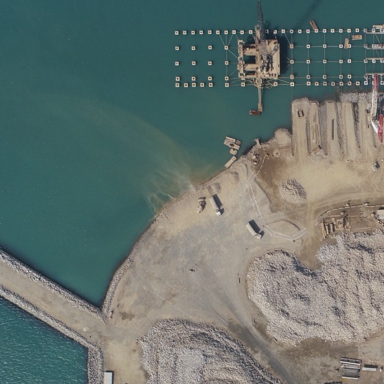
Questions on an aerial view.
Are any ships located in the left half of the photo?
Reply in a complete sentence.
No, no ship appears in the left half of the photo.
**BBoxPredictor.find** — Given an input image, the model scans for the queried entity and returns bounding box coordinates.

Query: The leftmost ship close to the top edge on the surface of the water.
[236,1,279,80]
